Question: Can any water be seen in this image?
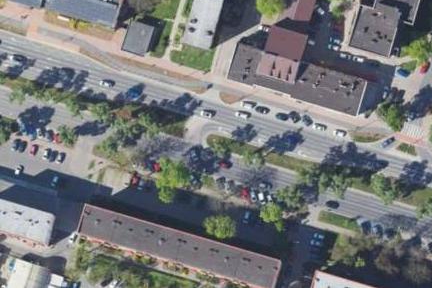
No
